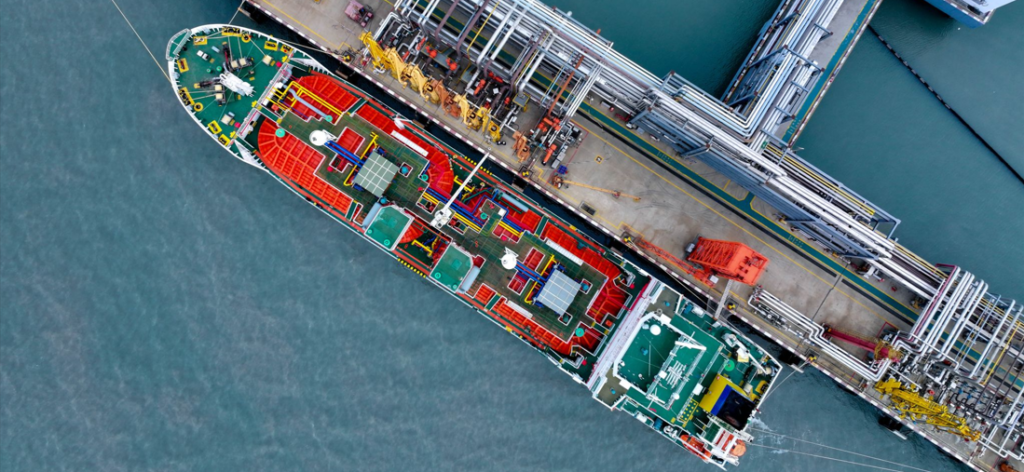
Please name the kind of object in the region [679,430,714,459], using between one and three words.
boat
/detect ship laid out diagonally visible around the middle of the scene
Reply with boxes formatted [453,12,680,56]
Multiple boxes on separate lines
[163,24,782,472]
